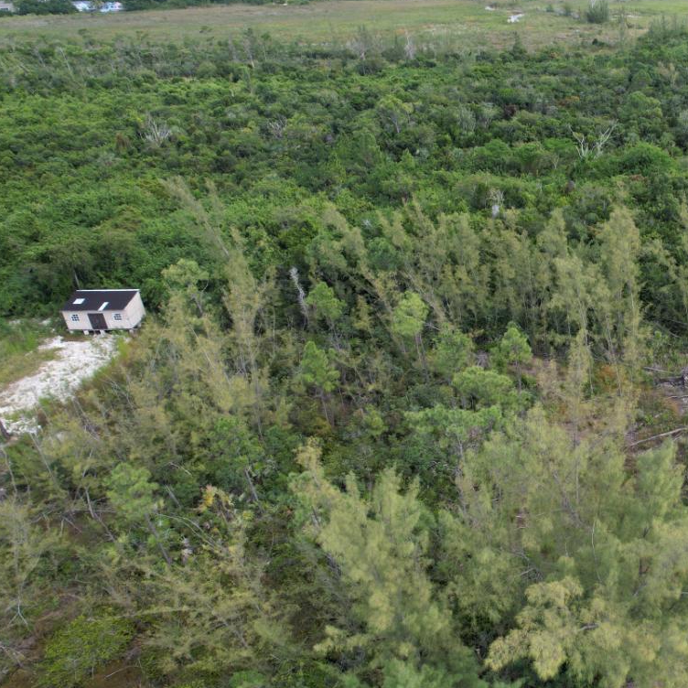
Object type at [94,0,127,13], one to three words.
house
